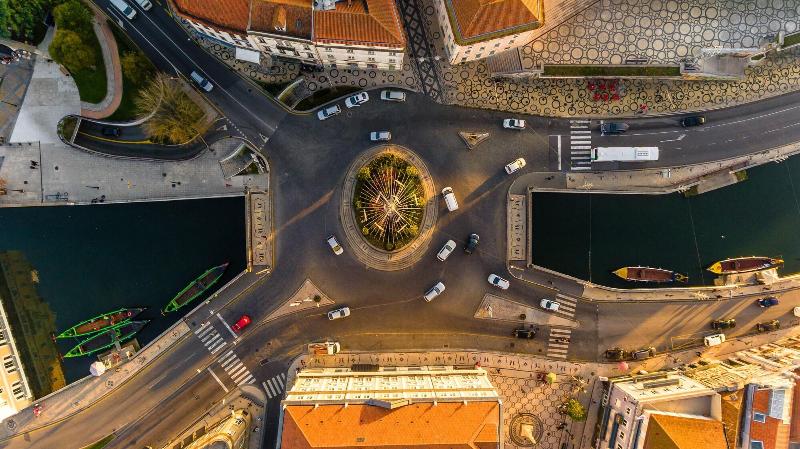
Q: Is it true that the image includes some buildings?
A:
Yes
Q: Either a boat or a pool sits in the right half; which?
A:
boat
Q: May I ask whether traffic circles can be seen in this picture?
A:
Yes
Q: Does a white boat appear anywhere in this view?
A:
No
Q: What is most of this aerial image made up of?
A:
paved ground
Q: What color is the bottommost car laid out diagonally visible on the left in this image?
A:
red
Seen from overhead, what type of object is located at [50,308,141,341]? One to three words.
boat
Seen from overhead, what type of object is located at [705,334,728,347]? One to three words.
vehicle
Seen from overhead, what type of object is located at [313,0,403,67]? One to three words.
house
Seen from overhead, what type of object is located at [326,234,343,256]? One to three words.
car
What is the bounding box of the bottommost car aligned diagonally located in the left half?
[230,315,251,335]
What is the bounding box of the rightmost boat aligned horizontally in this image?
[710,255,791,273]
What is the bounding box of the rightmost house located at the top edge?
[438,0,546,59]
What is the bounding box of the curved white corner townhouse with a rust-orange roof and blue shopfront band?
[173,0,263,55]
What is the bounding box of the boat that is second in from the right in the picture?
[615,266,692,283]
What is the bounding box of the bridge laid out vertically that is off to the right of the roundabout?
[510,187,534,270]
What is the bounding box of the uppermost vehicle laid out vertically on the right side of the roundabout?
[442,187,456,212]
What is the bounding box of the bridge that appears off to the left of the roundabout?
[245,190,267,273]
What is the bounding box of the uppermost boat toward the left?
[159,262,227,315]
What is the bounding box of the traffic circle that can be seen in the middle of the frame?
[338,145,438,272]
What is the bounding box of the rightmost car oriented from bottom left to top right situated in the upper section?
[503,155,528,175]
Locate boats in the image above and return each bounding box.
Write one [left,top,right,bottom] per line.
[159,262,227,315]
[615,266,692,283]
[710,255,791,273]
[60,320,146,360]
[50,308,141,341]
